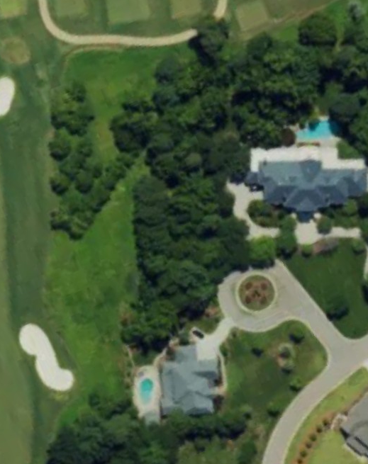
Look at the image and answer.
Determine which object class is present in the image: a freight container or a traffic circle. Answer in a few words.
traffic circle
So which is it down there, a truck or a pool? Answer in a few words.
pool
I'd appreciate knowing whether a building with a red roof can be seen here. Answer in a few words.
No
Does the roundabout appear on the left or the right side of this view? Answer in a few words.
right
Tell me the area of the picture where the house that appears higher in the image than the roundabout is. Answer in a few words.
right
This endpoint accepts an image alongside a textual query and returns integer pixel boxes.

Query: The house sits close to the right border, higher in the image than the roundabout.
[245,158,367,223]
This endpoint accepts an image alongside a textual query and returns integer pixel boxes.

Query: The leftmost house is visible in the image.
[152,344,219,421]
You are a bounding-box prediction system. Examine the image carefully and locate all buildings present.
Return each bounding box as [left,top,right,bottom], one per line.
[339,390,368,456]
[245,158,367,223]
[152,344,219,421]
